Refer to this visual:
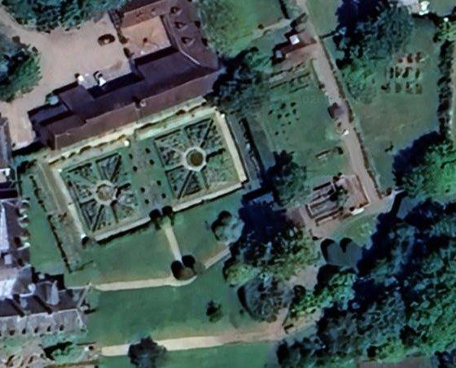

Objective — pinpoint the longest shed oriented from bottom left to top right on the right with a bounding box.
[273,29,315,60]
